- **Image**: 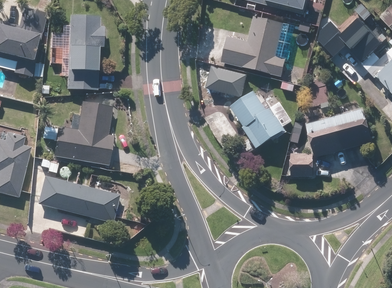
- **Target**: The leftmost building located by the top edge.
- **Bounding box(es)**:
[0,7,46,78]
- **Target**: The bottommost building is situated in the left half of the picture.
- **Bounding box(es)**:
[39,176,120,221]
